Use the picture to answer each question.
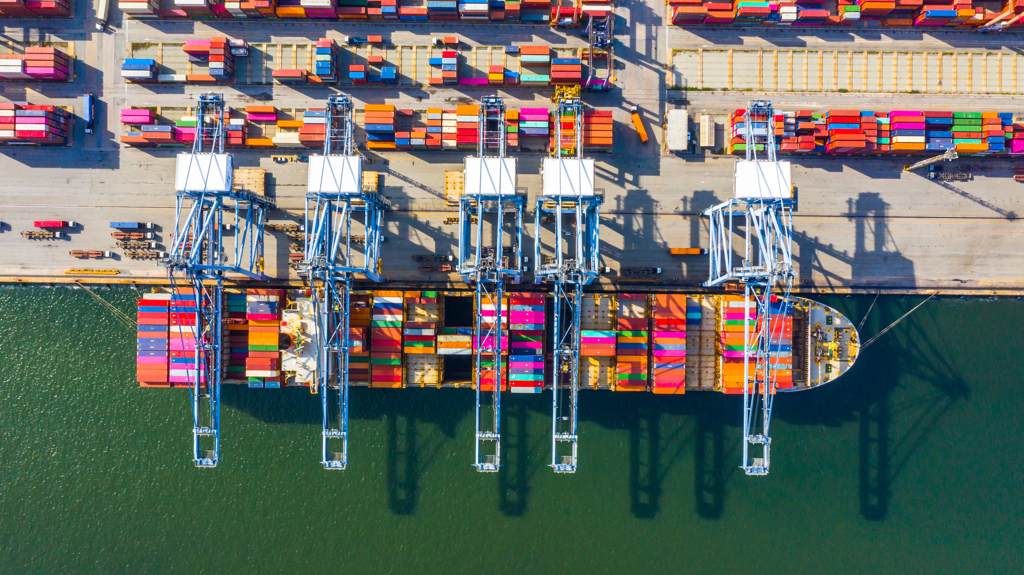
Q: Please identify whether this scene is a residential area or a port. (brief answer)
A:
port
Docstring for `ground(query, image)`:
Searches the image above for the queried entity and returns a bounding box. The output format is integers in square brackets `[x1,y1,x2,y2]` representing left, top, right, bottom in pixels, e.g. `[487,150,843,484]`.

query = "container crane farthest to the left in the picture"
[162,85,280,471]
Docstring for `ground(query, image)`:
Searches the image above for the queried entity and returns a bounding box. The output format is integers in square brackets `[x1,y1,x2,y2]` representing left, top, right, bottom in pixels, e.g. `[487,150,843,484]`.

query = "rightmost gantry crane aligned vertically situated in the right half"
[695,91,799,478]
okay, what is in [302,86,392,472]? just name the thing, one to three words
container crane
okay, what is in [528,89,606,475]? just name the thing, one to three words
container crane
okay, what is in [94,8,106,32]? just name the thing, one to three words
vehicle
